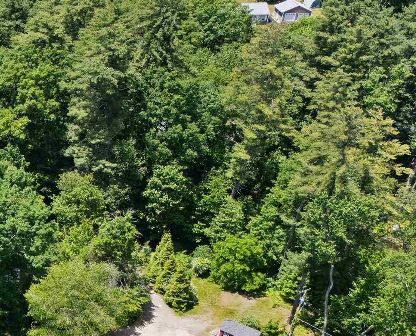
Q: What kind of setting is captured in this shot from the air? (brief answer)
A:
forest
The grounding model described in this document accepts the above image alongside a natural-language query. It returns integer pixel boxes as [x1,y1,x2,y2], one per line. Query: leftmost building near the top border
[216,1,270,23]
